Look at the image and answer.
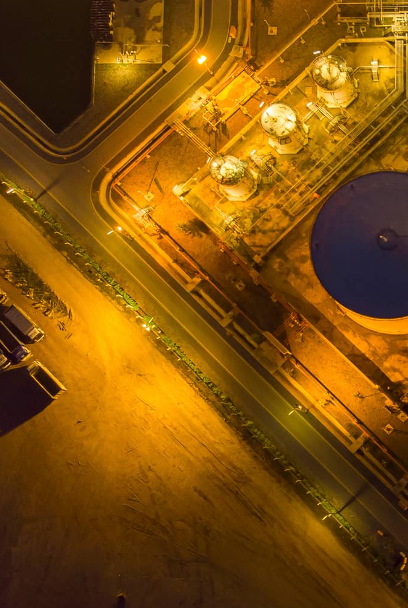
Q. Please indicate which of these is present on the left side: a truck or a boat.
truck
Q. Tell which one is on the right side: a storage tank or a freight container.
storage tank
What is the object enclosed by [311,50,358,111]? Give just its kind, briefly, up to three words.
storage tank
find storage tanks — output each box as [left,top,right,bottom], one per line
[255,100,310,156]
[203,151,263,205]
[309,171,408,339]
[311,50,358,111]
